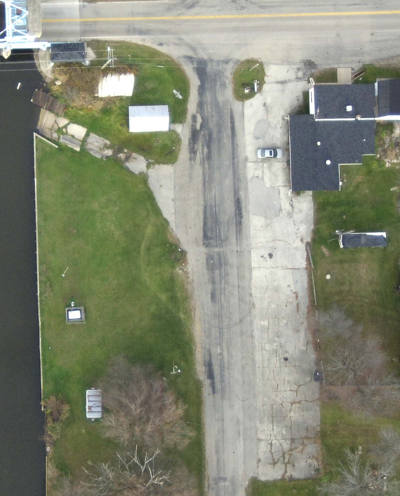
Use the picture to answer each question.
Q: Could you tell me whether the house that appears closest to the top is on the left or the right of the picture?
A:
left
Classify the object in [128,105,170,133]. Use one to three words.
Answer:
shed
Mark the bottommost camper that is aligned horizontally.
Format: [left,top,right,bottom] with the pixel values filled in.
[330,233,387,249]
